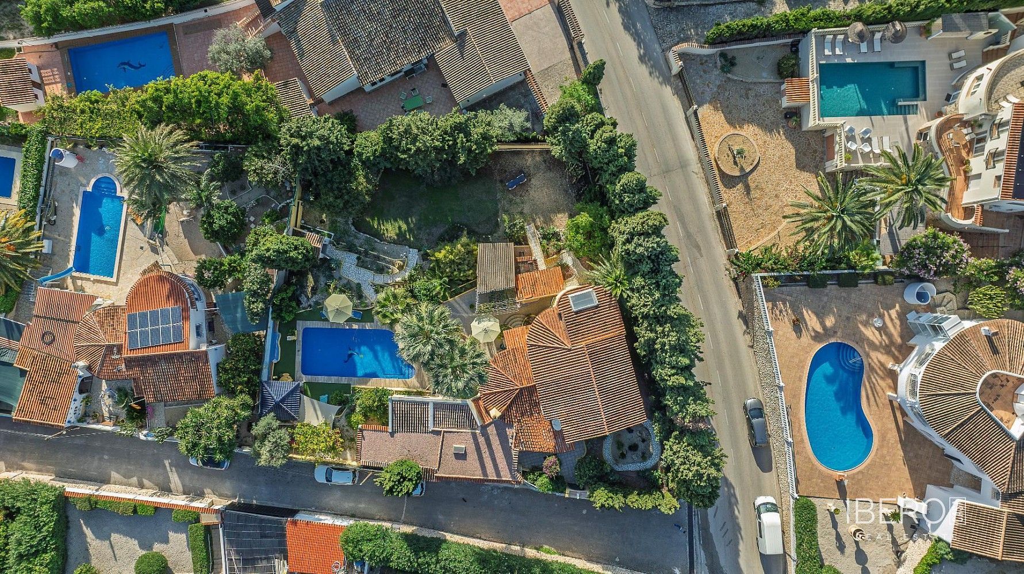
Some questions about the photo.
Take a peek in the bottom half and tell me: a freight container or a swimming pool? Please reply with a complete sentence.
You can see a swimming pool in the bottom half.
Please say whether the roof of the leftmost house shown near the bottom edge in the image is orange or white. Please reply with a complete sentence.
The color of the roof of the leftmost house shown near the bottom edge is orange.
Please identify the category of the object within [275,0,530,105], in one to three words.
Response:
house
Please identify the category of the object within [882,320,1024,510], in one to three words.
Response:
house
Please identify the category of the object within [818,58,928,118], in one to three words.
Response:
swimming pool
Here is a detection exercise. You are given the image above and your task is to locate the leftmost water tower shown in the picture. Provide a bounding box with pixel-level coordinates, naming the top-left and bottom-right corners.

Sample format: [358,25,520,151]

[49,148,80,167]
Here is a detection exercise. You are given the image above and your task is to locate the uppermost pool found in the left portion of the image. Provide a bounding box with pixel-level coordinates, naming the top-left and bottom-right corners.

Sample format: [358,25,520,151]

[60,27,182,103]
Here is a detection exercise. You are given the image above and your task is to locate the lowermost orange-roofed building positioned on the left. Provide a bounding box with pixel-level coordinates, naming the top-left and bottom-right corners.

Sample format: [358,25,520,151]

[285,504,356,574]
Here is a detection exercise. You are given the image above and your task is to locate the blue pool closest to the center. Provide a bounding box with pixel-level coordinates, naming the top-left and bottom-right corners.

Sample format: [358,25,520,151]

[300,326,415,381]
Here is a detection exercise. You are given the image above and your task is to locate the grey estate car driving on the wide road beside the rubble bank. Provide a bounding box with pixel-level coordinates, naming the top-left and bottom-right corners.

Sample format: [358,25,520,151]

[742,398,769,449]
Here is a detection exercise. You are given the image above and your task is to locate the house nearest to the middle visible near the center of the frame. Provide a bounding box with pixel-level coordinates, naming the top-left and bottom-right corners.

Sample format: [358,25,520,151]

[513,246,563,301]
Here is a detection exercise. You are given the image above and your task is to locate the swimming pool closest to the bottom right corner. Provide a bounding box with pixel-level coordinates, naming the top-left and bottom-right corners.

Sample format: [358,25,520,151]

[800,337,878,476]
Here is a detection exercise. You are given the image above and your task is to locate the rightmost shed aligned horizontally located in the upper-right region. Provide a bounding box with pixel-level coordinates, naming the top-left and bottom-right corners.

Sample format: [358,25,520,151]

[922,10,1017,43]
